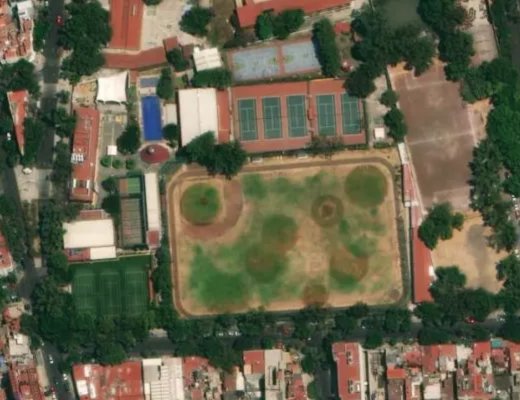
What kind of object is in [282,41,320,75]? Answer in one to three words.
basketball court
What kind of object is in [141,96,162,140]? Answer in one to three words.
swimming pool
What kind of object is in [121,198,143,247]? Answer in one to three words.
tennis court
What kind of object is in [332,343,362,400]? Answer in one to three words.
building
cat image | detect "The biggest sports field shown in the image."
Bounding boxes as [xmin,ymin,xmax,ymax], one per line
[164,148,408,322]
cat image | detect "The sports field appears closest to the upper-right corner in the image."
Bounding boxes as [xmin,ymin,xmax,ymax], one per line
[388,51,490,214]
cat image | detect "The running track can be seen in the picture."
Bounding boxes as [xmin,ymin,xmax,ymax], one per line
[170,157,402,319]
